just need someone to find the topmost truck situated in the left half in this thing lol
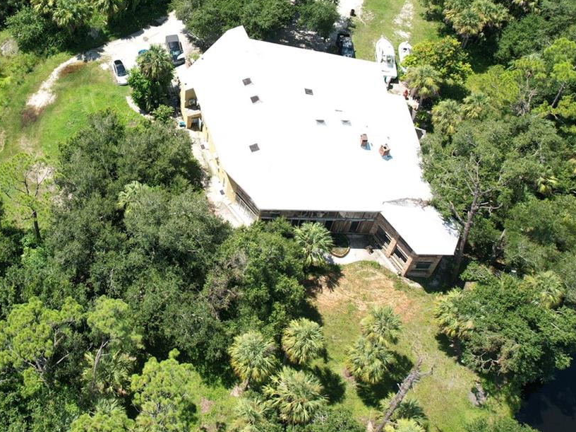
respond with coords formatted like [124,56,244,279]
[164,35,189,64]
